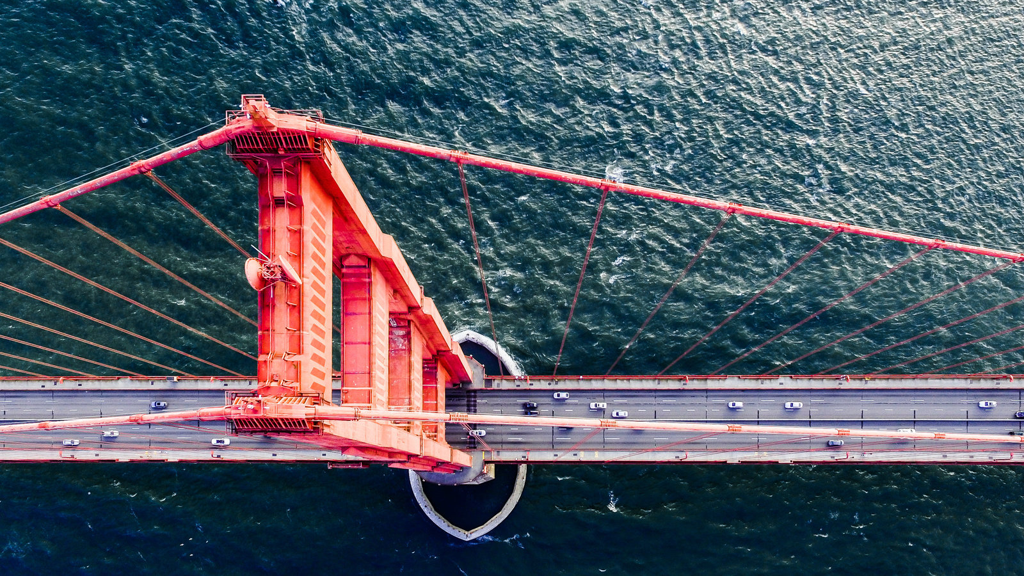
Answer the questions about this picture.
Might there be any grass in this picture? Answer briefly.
No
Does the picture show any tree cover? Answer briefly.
No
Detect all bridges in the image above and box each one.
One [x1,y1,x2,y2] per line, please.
[0,94,1024,484]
